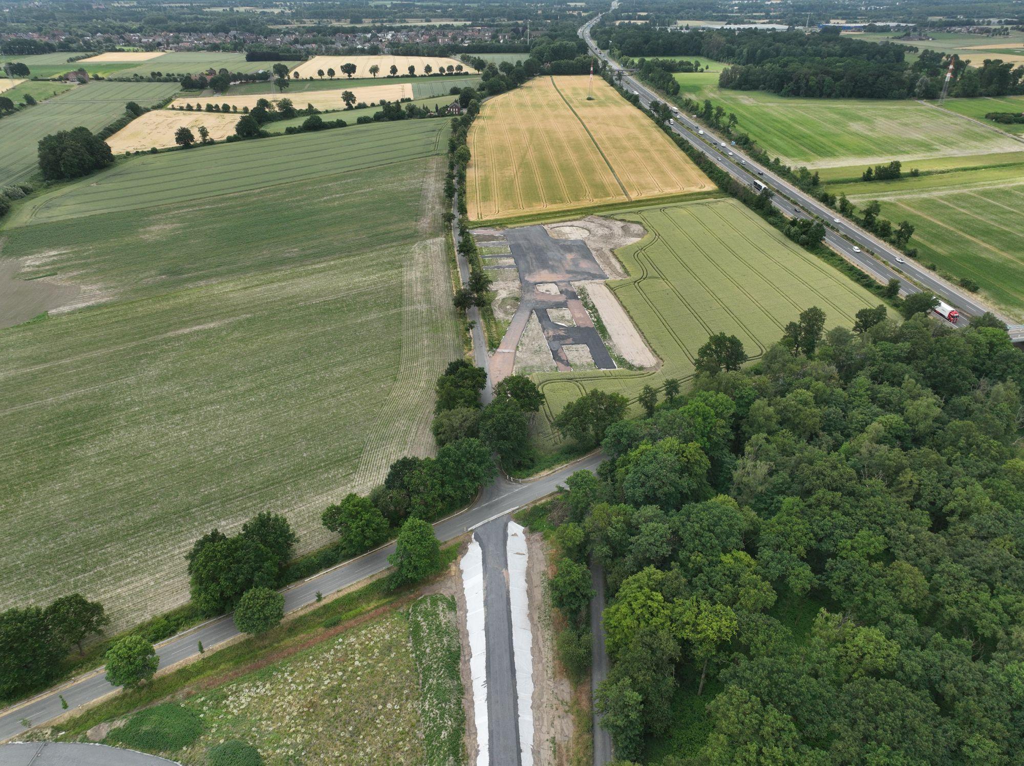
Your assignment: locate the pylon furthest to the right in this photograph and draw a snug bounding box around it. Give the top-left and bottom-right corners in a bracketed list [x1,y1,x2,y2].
[936,47,959,105]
